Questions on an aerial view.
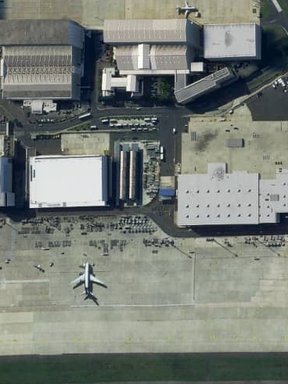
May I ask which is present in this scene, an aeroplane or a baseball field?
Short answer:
aeroplane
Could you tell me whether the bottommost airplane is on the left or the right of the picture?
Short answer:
left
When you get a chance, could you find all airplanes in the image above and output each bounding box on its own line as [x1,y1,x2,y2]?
[177,0,197,17]
[69,261,105,294]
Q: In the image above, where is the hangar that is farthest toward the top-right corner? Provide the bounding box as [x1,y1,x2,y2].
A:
[204,22,261,61]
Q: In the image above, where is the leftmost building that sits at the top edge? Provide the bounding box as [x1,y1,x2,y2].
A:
[0,19,89,102]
